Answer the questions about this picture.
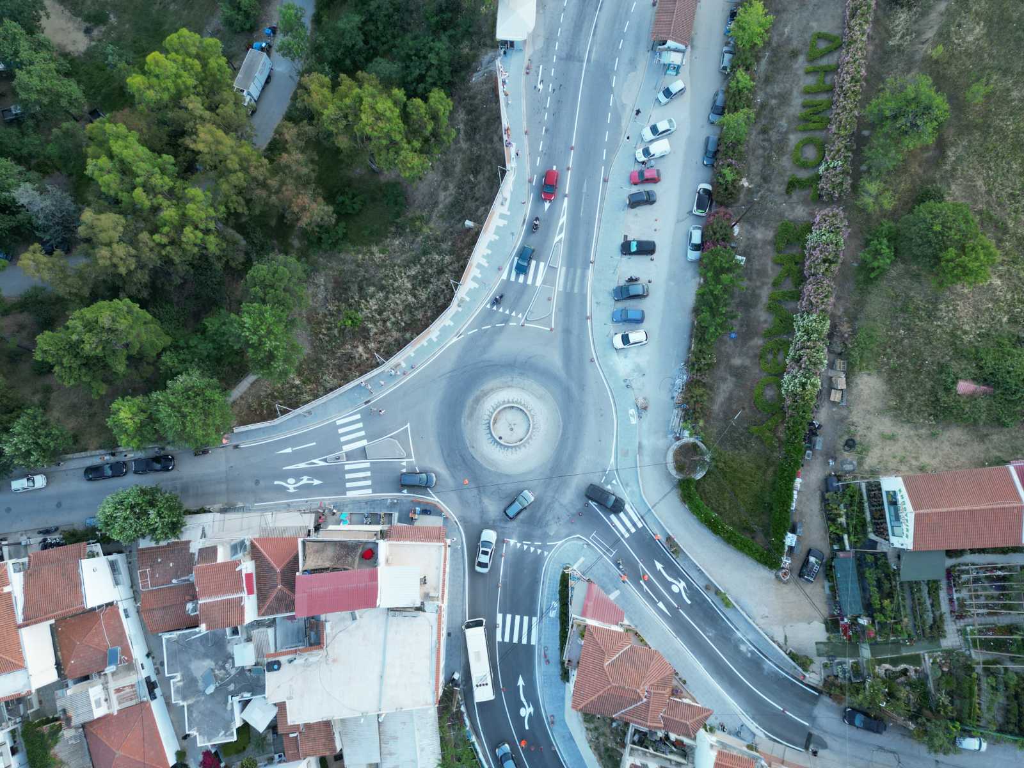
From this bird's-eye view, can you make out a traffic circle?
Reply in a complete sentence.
Yes, the frame does contain a traffic circle.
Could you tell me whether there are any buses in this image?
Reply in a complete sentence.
Yes, the picture does show a bus.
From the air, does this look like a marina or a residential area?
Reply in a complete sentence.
This image shows a residential area.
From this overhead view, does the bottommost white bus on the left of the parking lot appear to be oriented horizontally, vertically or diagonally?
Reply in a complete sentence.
Seen from above, the bottommost white bus on the left of the parking lot lies vertically.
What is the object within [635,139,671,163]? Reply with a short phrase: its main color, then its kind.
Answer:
white vehicle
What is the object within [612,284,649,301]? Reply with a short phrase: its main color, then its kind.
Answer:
blue car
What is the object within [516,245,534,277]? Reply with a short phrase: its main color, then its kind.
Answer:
blue car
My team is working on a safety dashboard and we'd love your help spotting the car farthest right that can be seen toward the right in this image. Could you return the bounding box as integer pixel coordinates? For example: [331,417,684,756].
[952,734,986,755]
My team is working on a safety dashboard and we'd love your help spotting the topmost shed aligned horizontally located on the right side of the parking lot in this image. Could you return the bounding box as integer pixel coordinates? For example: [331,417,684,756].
[949,380,993,394]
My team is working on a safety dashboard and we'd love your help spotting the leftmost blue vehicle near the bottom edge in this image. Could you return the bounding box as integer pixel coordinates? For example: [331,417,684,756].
[496,738,518,768]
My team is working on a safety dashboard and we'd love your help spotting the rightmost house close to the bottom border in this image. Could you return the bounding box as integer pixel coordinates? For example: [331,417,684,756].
[688,727,769,768]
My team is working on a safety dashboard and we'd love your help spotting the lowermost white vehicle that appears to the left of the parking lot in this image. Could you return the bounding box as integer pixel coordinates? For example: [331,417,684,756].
[461,614,495,710]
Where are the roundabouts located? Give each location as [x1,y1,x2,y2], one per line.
[439,354,584,498]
